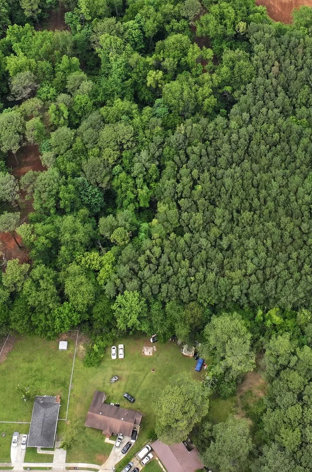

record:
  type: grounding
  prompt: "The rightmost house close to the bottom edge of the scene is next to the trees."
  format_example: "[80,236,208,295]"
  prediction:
[152,433,203,472]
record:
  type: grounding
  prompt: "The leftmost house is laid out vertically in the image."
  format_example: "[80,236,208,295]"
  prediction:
[27,396,61,447]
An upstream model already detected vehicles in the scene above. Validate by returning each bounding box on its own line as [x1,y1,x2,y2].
[129,425,139,446]
[20,433,28,450]
[195,357,204,372]
[138,443,152,460]
[122,460,134,472]
[114,434,123,450]
[140,450,156,469]
[120,440,132,456]
[11,430,20,449]
[122,392,136,404]
[112,345,117,359]
[118,344,125,359]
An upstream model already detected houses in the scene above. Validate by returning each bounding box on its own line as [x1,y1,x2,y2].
[152,433,203,472]
[86,391,142,436]
[27,396,61,447]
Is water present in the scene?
No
